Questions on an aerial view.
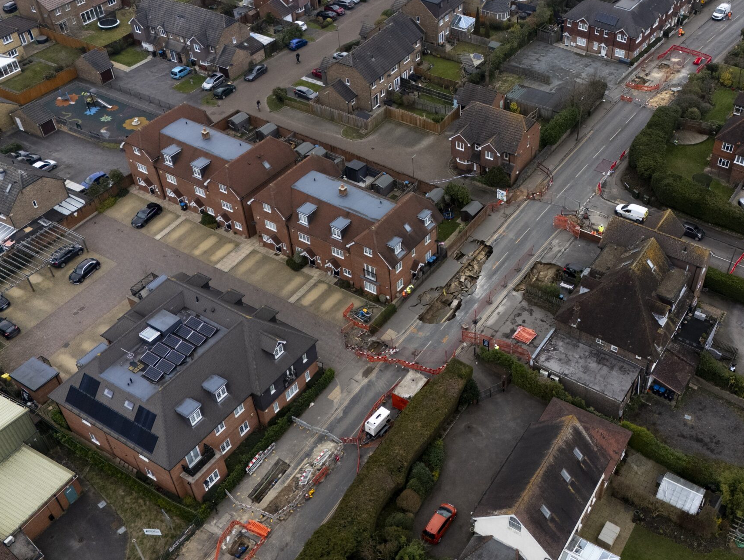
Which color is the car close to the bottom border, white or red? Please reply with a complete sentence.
The car close to the bottom border looks red in the image.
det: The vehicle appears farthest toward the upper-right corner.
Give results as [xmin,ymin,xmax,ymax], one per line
[710,1,733,21]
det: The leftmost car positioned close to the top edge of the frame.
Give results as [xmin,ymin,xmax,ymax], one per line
[0,1,18,15]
